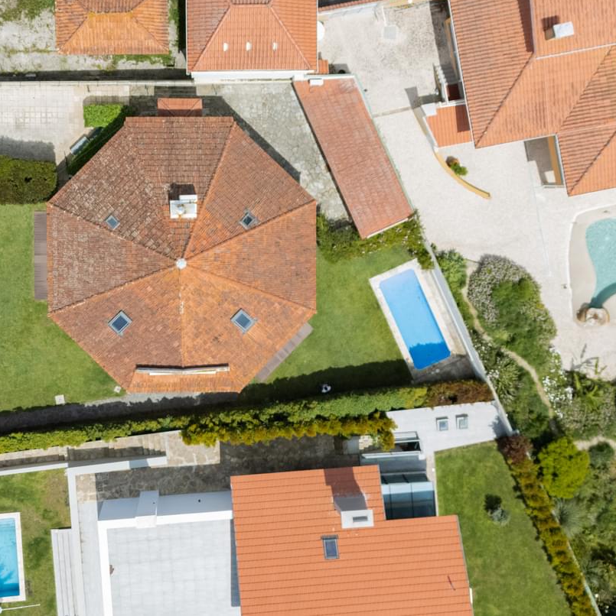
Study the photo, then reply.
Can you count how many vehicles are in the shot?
0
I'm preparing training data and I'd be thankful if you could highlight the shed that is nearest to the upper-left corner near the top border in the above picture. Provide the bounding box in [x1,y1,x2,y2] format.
[55,0,170,55]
